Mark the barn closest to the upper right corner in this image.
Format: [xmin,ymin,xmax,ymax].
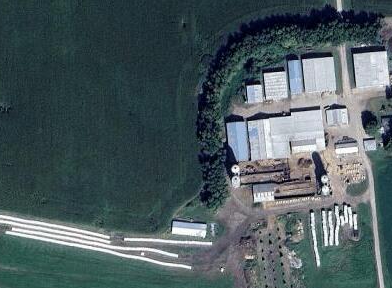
[353,51,389,89]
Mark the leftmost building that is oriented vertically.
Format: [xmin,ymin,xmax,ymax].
[227,121,248,161]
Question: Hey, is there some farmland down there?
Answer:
Yes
